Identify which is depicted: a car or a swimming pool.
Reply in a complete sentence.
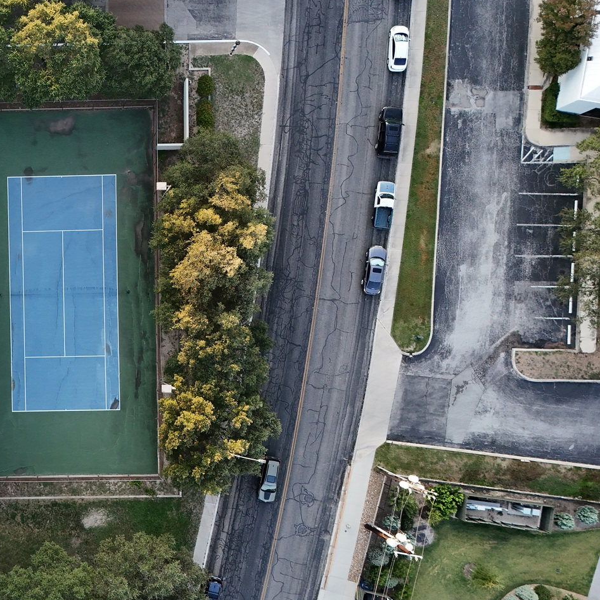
Of the two, only a car appears.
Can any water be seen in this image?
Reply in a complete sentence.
No, the picture contains no water.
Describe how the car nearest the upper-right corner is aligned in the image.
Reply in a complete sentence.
The car nearest the upper-right corner is laid out vertically.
